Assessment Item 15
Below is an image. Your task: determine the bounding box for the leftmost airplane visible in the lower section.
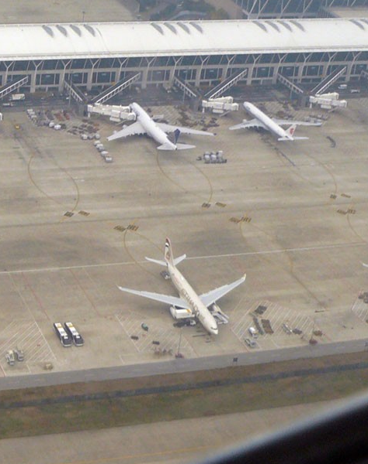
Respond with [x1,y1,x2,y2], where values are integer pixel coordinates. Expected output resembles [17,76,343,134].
[110,234,246,332]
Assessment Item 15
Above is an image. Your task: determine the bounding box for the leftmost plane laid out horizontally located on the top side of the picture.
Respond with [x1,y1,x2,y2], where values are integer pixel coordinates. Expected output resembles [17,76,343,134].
[102,102,216,149]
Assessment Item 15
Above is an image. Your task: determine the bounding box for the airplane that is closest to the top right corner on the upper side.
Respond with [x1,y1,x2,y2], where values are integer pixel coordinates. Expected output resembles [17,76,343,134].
[227,103,326,142]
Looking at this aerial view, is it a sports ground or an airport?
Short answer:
airport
